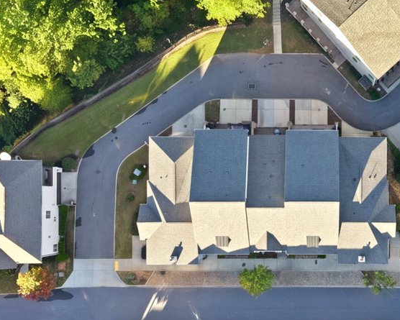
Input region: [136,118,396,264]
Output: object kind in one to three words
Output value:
house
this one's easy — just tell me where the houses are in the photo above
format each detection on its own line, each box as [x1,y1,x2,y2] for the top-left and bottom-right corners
[0,159,72,269]
[136,118,396,264]
[302,0,400,90]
